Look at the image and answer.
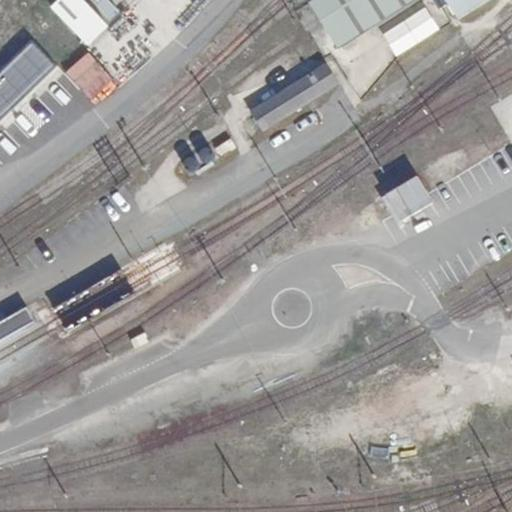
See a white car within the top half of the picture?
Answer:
Yes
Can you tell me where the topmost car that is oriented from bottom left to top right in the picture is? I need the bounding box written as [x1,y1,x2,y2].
[268,67,290,84]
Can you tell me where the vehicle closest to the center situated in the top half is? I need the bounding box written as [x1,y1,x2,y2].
[270,129,292,146]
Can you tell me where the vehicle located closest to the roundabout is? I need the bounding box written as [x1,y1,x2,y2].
[412,219,433,234]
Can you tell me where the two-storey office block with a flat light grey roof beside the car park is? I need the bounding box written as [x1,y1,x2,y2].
[384,174,436,225]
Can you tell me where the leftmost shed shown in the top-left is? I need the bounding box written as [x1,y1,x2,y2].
[0,40,55,120]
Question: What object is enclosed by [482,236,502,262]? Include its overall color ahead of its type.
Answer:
white car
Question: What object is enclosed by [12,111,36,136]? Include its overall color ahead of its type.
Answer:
white vehicle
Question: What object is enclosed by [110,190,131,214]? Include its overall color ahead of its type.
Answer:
white vehicle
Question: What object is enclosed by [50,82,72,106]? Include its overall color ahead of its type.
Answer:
white truck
